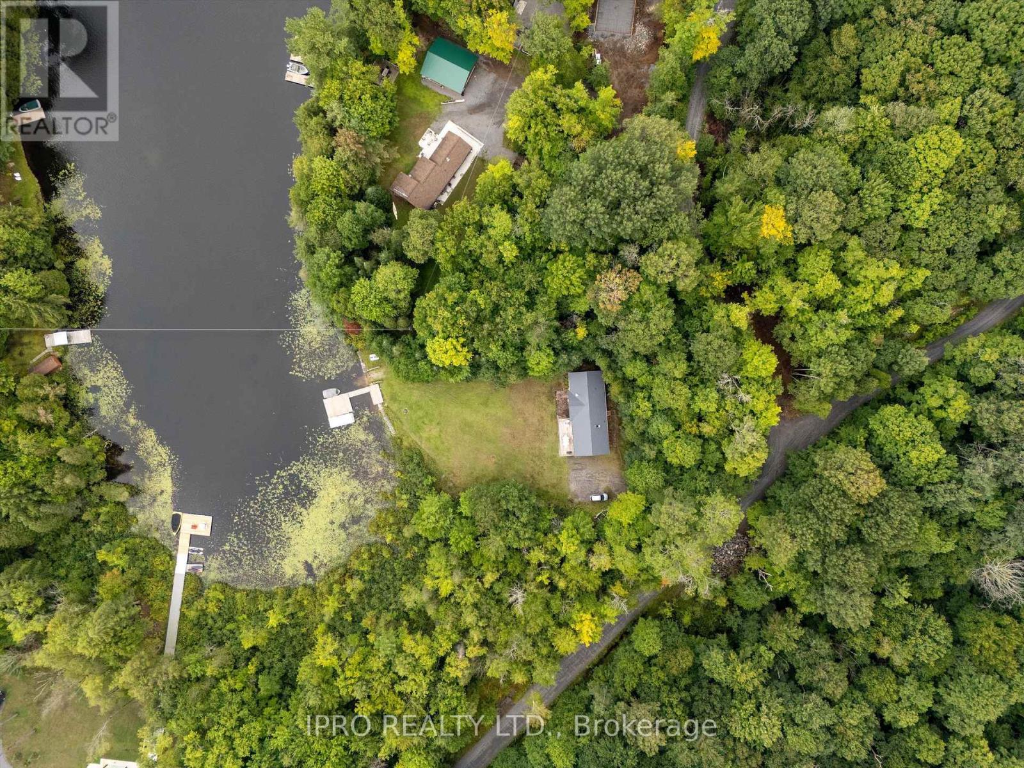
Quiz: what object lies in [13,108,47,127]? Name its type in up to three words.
pier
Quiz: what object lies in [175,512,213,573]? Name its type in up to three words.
pier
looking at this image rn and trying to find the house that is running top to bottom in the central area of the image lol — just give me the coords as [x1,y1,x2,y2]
[569,370,610,457]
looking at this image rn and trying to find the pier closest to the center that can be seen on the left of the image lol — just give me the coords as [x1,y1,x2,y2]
[323,383,383,418]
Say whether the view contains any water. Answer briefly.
Yes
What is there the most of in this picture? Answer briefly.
trees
